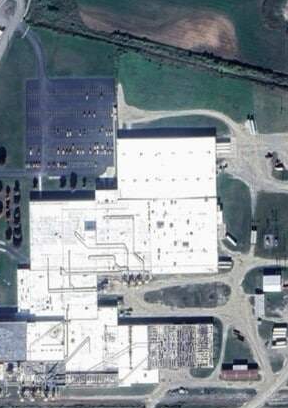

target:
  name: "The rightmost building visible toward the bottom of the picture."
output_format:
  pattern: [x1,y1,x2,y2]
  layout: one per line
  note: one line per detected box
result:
[263,275,281,292]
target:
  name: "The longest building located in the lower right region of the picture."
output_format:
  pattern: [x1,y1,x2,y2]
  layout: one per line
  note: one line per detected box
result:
[222,363,258,381]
